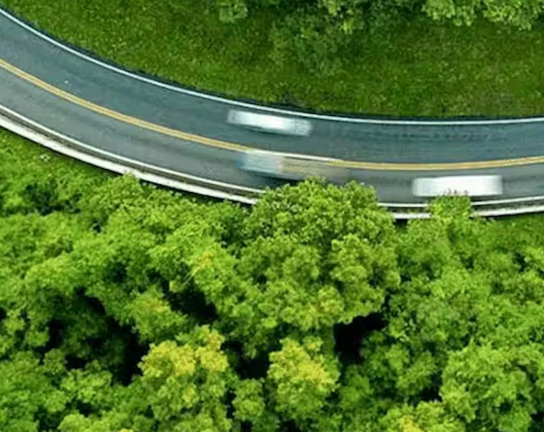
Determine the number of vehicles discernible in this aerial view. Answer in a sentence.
My tally gives 3 vehicles in this view.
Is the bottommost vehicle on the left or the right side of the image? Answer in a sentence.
You can find the bottommost vehicle on the right side of the picture.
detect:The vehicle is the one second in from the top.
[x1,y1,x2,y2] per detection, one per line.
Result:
[240,146,355,186]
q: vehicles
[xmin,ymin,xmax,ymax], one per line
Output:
[416,176,500,201]
[237,109,304,137]
[240,146,355,186]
